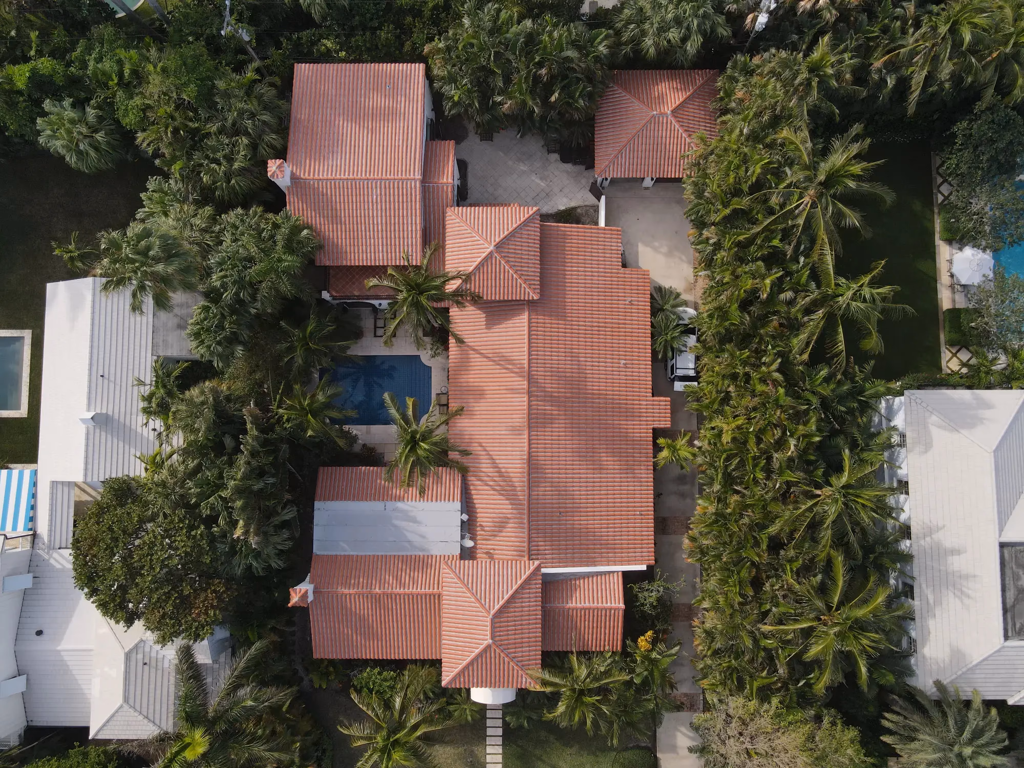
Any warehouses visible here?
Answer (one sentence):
No, this view has no warehouse in it.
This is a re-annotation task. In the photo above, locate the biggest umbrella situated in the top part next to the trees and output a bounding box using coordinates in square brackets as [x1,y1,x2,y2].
[946,245,990,288]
